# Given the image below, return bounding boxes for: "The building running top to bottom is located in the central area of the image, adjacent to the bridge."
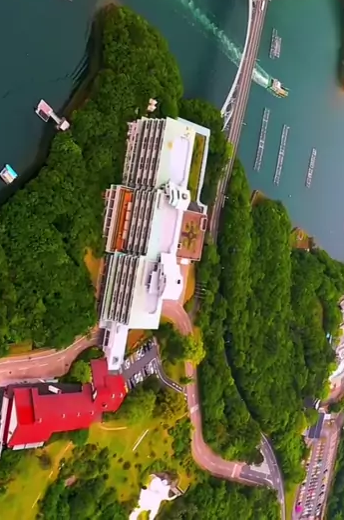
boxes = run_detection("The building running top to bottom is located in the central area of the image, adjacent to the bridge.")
[91,117,209,372]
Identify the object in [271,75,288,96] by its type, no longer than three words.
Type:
ship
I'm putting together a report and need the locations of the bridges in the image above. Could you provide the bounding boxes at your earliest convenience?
[214,0,269,209]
